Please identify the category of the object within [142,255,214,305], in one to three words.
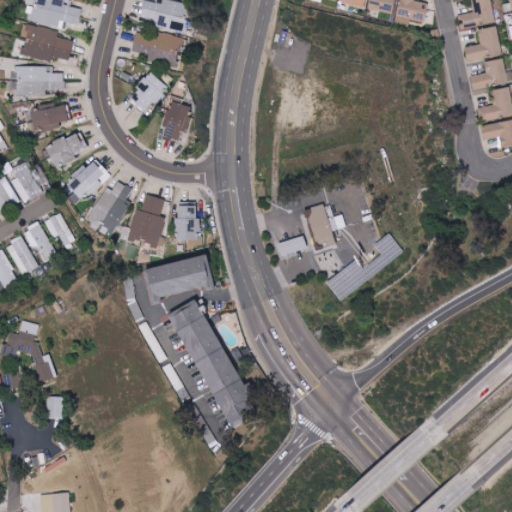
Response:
building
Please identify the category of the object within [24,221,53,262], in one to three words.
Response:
house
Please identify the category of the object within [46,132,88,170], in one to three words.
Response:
house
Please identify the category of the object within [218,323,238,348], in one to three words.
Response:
swimming pool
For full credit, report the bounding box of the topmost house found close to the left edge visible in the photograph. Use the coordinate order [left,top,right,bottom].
[25,0,80,30]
